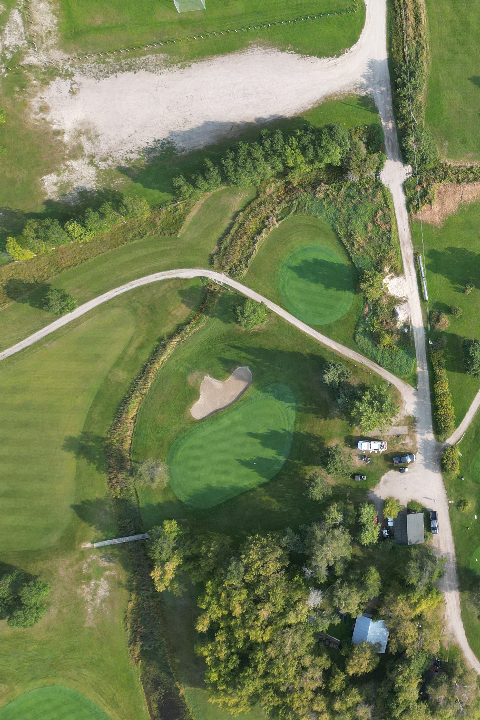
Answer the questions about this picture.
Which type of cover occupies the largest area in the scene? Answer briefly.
grass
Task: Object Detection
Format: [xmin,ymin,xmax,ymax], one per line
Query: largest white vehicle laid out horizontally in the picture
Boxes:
[358,441,387,453]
